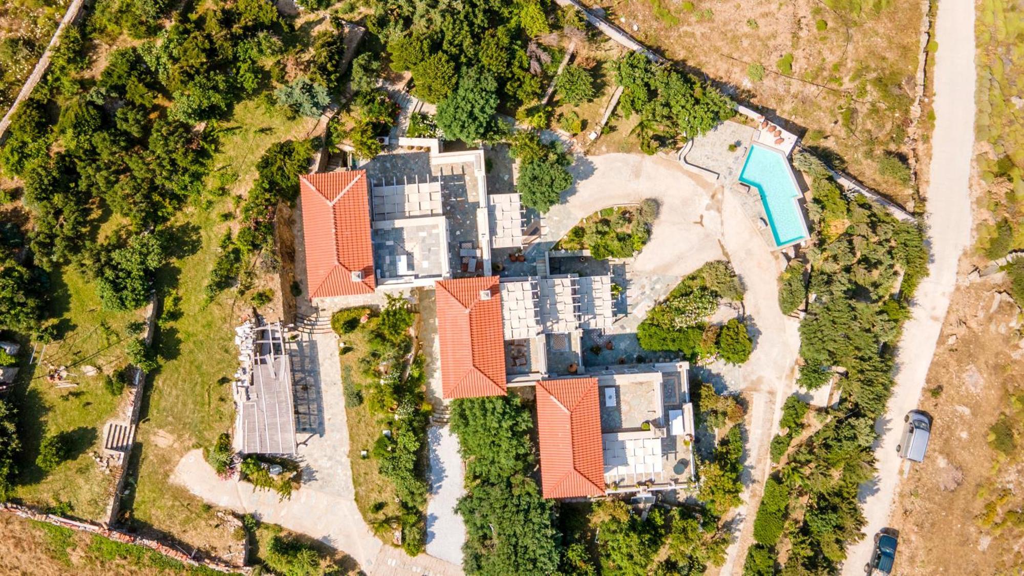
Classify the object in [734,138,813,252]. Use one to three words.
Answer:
swimming pool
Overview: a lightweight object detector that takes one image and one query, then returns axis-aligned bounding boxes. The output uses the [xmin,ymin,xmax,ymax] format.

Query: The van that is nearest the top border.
[896,408,935,465]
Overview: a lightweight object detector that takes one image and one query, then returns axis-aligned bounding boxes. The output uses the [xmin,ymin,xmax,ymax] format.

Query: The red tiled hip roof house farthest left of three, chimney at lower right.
[298,168,387,300]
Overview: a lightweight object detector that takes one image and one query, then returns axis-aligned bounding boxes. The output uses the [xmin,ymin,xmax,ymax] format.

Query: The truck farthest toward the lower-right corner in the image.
[861,523,902,576]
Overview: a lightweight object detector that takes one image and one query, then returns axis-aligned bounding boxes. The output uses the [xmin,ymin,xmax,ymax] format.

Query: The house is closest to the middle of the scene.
[435,275,508,400]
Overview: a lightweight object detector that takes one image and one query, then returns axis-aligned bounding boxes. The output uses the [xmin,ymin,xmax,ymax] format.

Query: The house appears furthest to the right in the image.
[535,374,606,500]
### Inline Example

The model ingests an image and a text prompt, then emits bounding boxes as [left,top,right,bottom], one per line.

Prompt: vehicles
[896,408,935,465]
[861,523,902,576]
